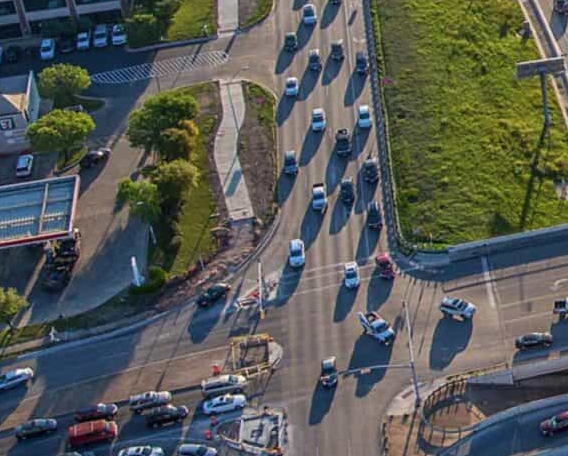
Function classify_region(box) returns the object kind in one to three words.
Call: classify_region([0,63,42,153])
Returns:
building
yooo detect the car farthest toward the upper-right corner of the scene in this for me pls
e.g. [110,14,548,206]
[552,0,568,13]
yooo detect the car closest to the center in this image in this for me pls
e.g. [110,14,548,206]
[287,240,305,265]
